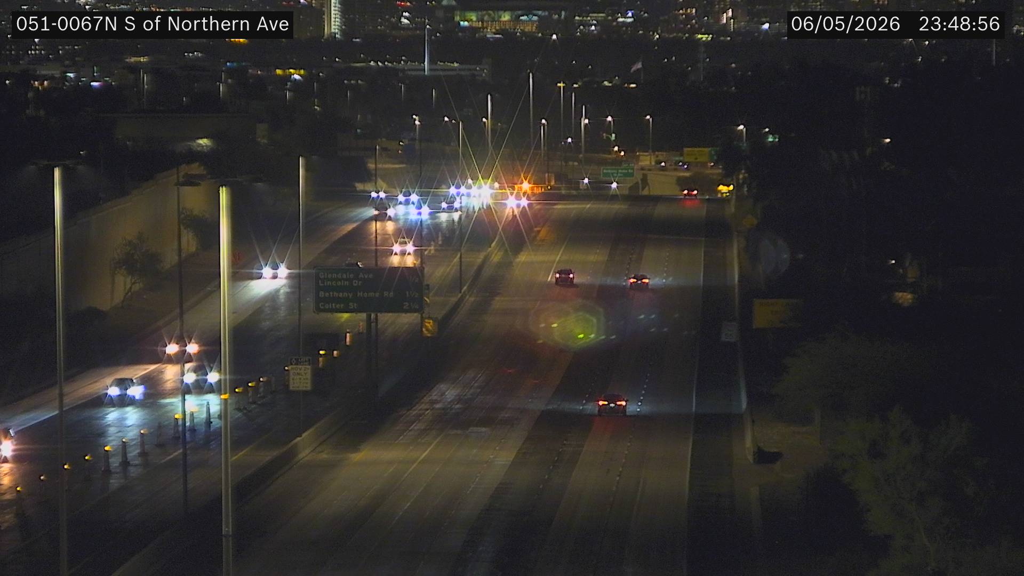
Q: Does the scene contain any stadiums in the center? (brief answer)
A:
No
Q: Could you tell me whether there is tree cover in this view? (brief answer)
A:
Yes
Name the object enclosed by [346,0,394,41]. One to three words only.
building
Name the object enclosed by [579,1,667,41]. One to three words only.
building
